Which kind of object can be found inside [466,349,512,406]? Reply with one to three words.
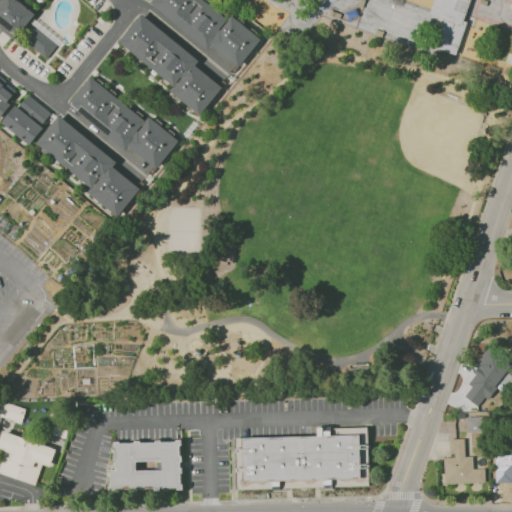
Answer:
house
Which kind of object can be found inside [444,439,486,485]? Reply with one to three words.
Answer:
house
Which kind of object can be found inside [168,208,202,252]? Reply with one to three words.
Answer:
sports court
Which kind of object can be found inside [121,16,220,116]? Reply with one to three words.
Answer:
building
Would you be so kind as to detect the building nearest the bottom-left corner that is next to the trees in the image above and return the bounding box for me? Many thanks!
[0,432,54,487]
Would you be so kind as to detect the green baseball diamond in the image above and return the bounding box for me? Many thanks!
[206,62,483,358]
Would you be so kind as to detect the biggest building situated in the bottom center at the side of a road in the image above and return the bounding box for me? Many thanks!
[234,428,370,490]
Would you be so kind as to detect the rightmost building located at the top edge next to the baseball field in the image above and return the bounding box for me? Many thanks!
[430,0,472,55]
